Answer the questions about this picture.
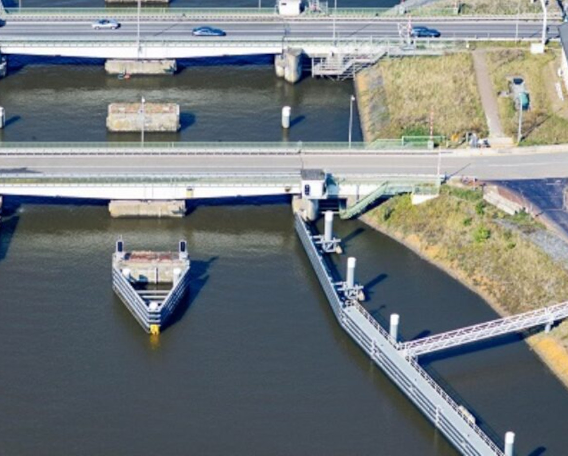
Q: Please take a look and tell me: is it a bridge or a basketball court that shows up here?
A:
bridge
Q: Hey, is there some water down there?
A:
Yes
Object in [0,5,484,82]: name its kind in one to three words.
bridge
